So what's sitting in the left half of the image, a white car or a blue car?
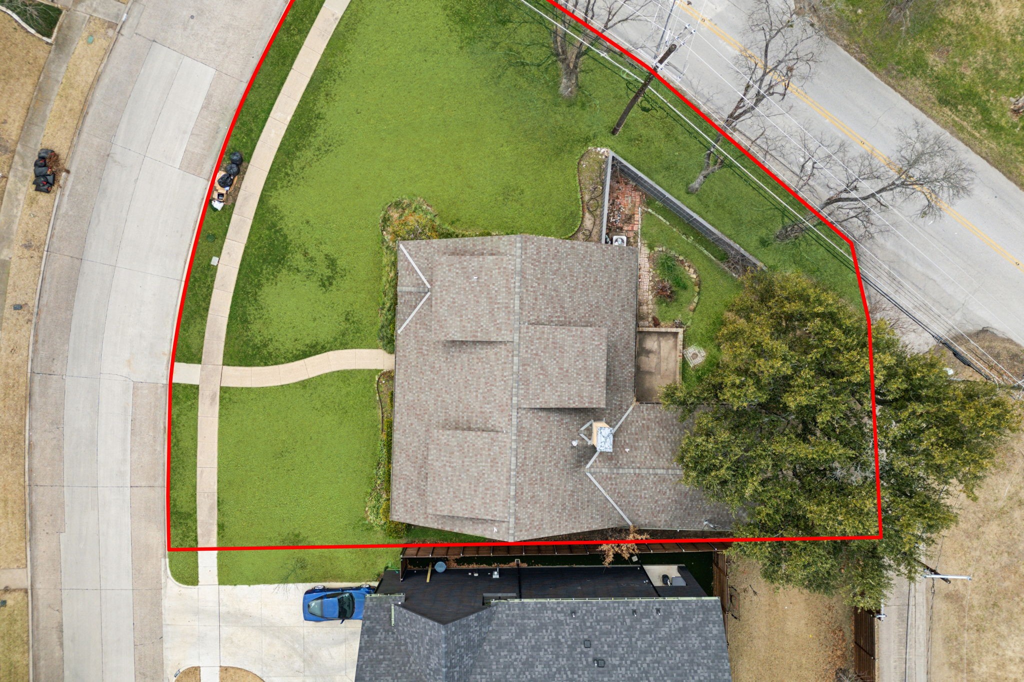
blue car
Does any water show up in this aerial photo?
No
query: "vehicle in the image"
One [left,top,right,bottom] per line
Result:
[303,588,368,626]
